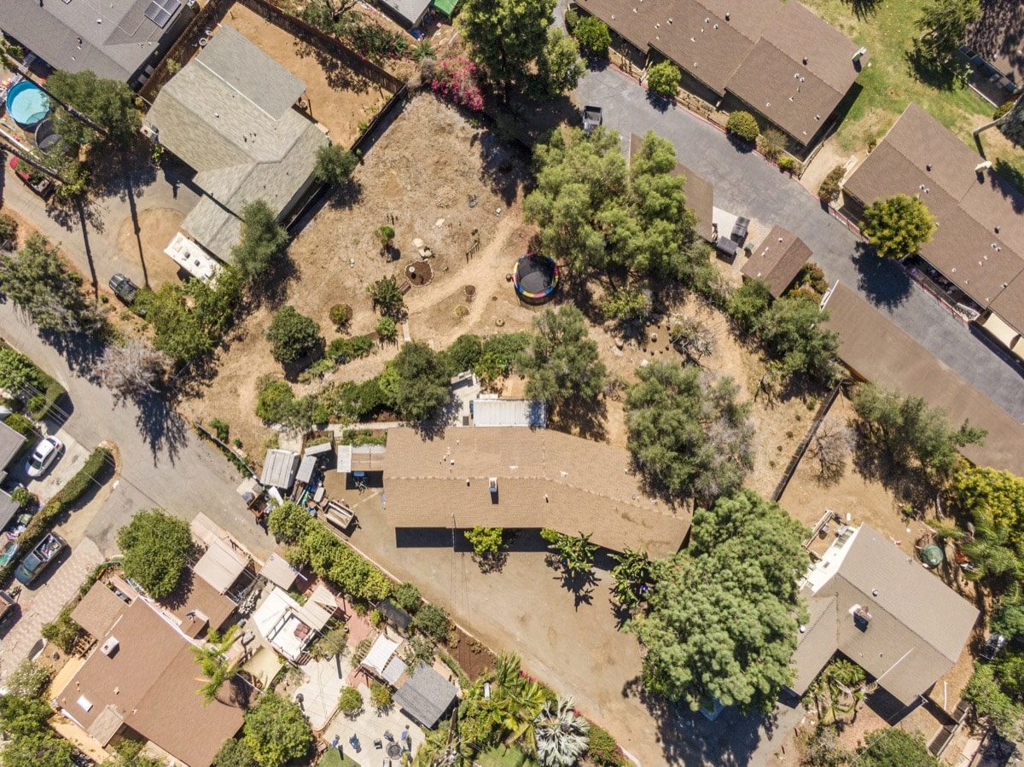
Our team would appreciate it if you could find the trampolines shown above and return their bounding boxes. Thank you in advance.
[514,252,560,301]
[31,120,66,157]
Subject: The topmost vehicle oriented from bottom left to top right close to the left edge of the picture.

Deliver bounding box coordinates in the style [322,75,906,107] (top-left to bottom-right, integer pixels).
[21,434,64,478]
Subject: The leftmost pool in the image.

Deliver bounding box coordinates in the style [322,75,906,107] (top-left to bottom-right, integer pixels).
[0,79,51,129]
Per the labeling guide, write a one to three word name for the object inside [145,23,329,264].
house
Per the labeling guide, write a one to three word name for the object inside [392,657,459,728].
shed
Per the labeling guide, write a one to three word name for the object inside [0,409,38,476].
house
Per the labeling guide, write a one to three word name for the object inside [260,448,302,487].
shed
